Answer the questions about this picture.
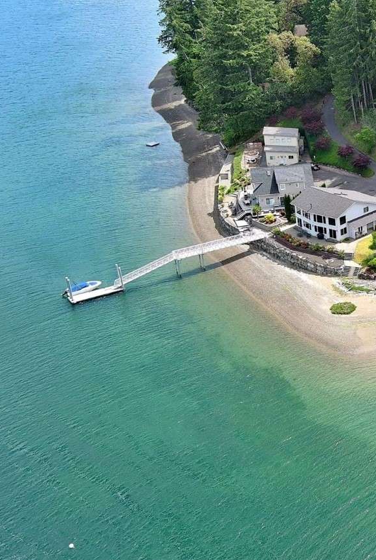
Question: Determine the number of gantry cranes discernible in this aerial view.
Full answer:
The count of gantry cranes is 0.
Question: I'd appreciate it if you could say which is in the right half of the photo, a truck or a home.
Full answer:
You can see a home in the right half of the photo.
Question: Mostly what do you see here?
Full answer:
The scene is dominated by water.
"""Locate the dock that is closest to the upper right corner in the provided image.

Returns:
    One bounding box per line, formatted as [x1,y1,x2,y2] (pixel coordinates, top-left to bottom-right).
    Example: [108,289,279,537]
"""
[172,227,266,279]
